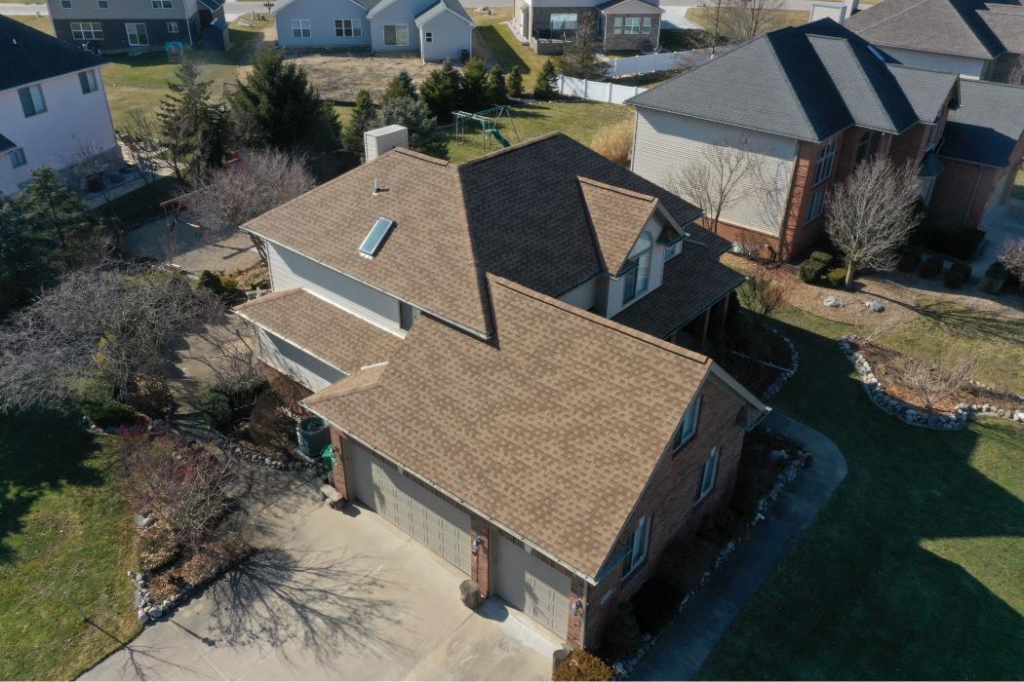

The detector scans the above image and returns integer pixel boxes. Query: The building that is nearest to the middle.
[231,124,772,652]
